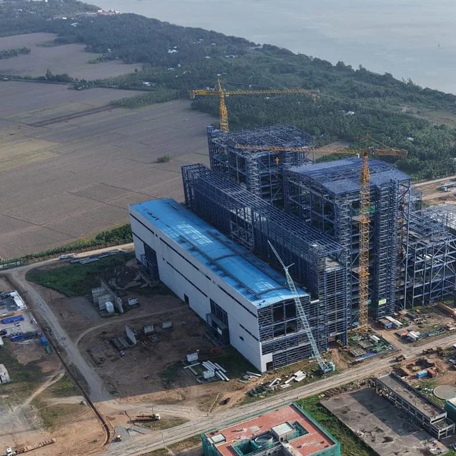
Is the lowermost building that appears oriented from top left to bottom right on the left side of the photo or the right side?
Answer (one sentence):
The lowermost building that appears oriented from top left to bottom right is on the right side of the image.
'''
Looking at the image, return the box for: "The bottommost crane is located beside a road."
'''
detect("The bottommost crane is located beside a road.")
[266,239,338,370]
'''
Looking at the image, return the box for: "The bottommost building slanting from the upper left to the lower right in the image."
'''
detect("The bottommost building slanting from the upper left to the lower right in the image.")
[375,372,456,440]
